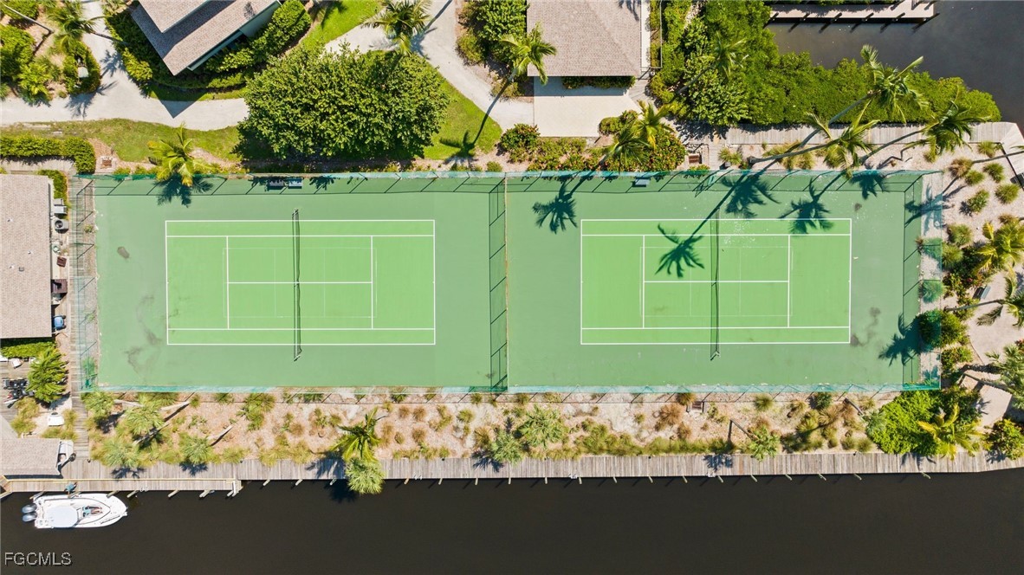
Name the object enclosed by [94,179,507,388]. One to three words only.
tennis court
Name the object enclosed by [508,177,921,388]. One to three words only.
tennis court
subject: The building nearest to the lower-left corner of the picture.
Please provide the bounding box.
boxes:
[0,437,63,476]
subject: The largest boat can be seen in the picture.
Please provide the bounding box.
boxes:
[17,496,129,532]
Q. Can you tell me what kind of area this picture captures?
sports ground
